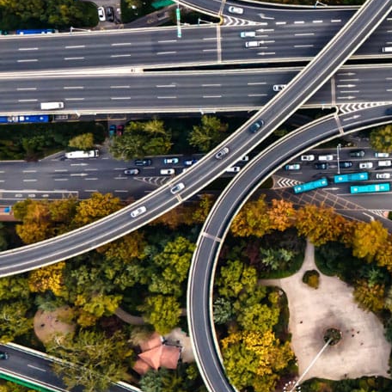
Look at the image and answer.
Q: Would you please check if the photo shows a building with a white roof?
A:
No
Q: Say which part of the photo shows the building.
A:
bottom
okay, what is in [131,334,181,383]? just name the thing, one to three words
building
